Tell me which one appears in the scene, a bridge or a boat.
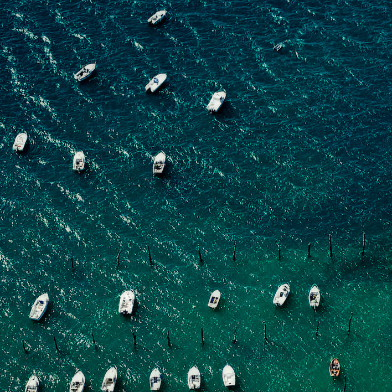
boat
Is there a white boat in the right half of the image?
Yes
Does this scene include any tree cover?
No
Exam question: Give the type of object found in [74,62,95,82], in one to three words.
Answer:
boat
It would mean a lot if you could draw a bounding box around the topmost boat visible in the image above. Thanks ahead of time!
[147,10,166,25]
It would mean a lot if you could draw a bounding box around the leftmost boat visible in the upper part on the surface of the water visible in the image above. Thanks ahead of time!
[12,132,29,153]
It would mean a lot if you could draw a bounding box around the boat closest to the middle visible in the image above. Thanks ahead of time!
[152,151,167,176]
